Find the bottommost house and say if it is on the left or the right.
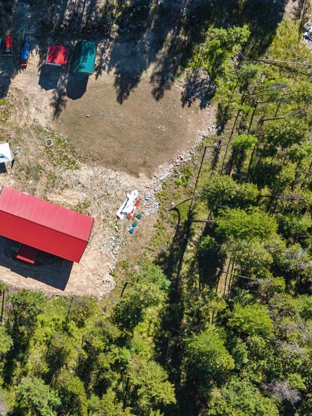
left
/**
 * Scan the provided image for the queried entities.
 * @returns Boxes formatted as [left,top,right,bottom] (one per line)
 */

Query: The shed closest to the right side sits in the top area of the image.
[66,40,94,77]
